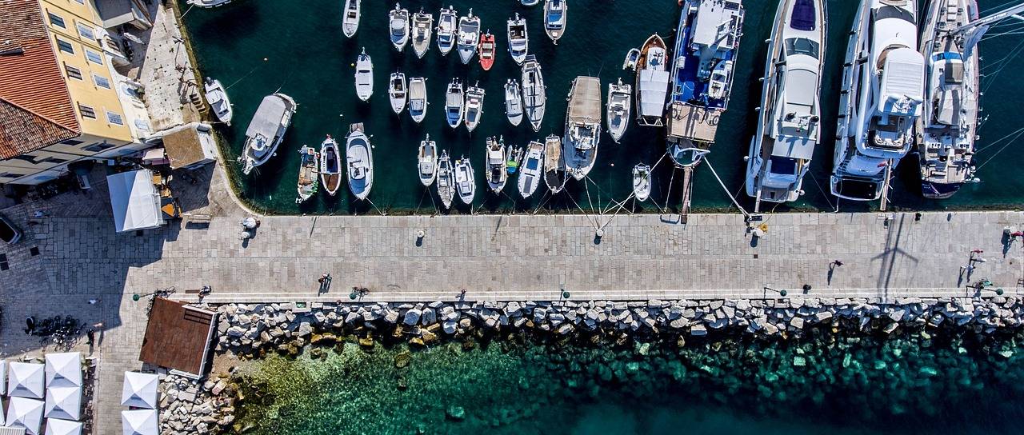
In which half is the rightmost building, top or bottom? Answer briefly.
top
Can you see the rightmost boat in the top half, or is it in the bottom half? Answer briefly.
top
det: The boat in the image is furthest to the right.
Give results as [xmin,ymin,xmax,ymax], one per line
[914,0,1024,199]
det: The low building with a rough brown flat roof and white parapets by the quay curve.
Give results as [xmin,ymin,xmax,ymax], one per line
[146,123,229,172]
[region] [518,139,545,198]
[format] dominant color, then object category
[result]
white boat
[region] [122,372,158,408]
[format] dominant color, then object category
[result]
white umbrella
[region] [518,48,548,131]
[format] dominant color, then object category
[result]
white boat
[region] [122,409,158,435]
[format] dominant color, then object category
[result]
white umbrella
